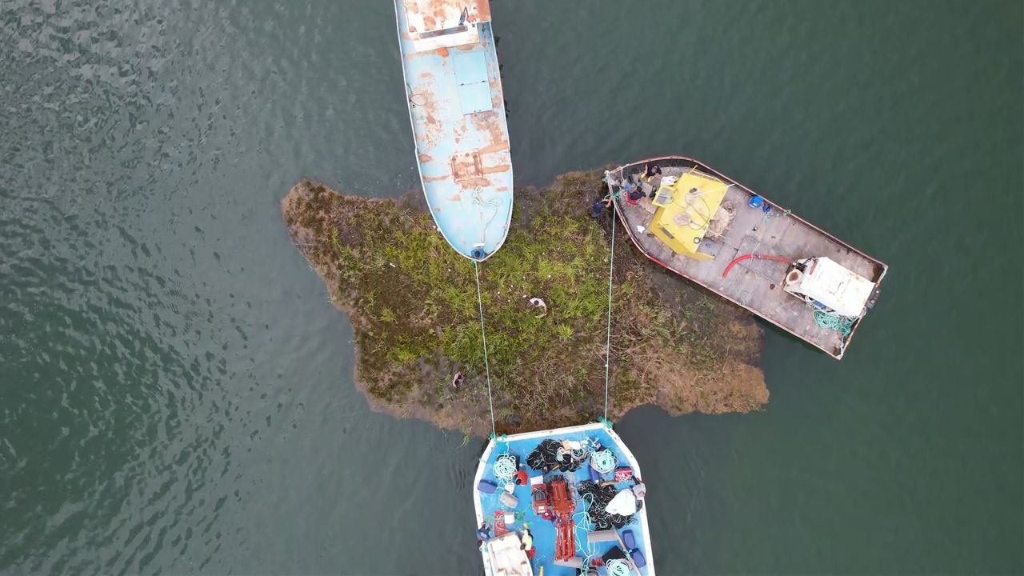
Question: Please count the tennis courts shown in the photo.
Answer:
0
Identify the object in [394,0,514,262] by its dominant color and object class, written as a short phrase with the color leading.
white boat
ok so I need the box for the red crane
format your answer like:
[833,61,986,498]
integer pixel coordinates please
[530,472,578,562]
